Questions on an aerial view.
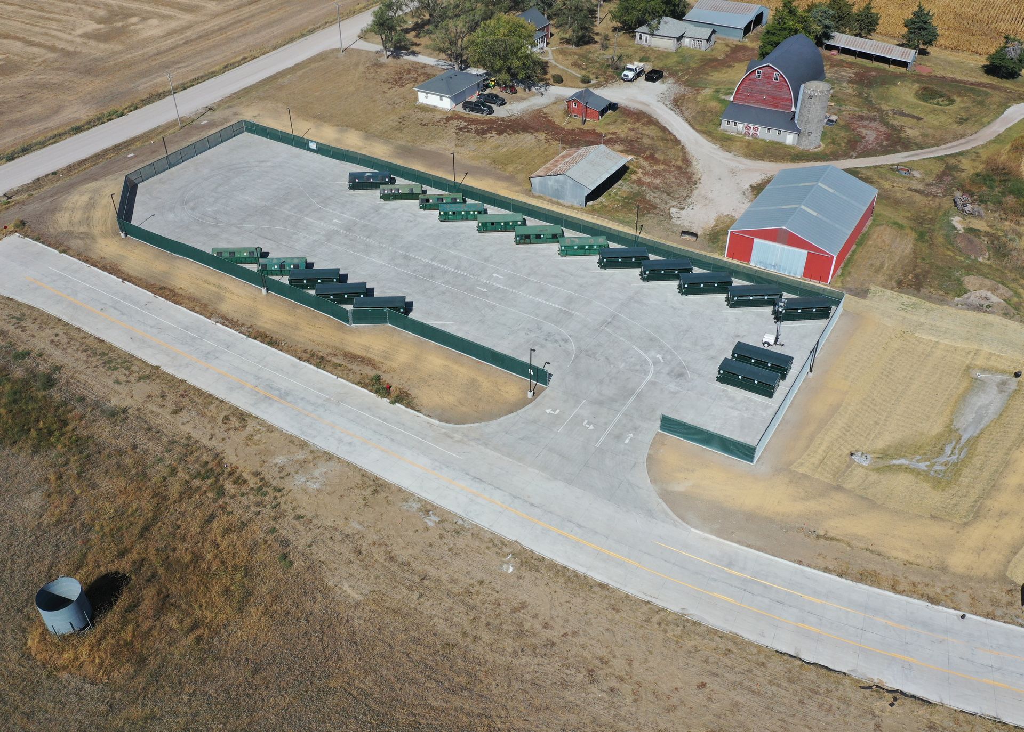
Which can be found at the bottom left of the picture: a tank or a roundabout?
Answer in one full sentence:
It is a tank that can be seen at the bottom left of the picture.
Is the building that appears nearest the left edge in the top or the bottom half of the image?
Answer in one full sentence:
The top half of the photo is where the building that appears nearest the left edge is.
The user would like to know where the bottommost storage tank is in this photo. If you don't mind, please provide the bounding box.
[35,574,93,642]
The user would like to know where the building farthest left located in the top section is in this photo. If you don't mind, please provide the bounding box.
[412,68,486,111]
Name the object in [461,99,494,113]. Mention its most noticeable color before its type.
black vehicle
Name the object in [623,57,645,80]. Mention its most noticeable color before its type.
white truck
